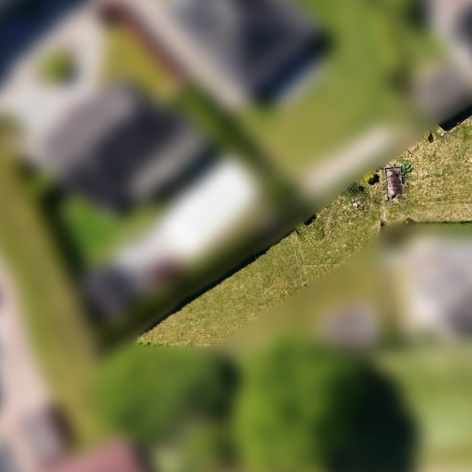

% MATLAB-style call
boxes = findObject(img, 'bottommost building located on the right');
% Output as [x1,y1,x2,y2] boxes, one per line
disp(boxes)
[326,299,376,345]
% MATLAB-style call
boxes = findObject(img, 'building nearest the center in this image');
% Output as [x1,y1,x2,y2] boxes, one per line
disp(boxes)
[153,159,257,255]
